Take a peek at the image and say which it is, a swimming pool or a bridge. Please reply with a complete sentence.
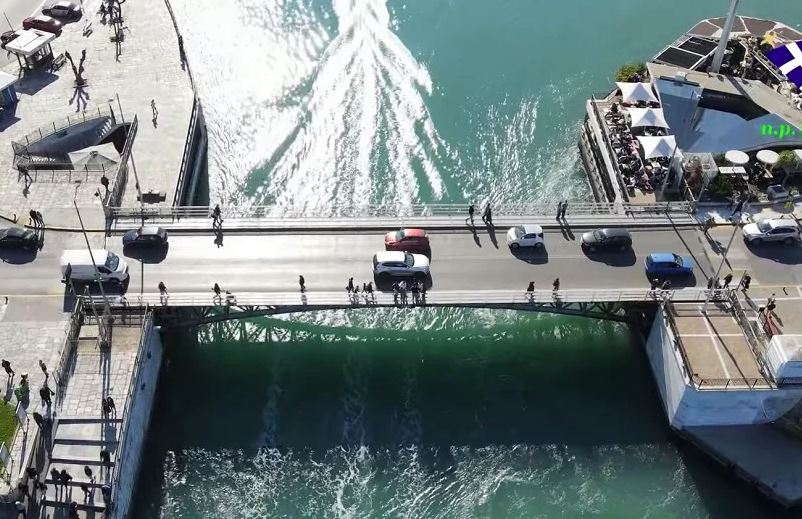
The image shows a bridge.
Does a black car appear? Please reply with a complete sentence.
Yes, you can see a black car in this photo.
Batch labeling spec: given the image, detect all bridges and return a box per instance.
[83,203,706,350]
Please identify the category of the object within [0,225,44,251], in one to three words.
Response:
car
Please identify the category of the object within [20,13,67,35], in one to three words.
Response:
car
